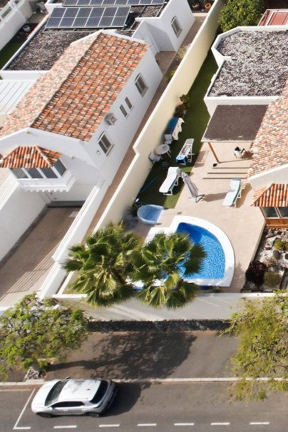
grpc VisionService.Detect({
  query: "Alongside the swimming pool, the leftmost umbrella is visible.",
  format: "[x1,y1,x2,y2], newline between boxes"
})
[170,160,202,203]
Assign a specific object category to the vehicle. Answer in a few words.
car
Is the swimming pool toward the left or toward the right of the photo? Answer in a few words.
right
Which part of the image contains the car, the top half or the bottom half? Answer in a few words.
bottom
